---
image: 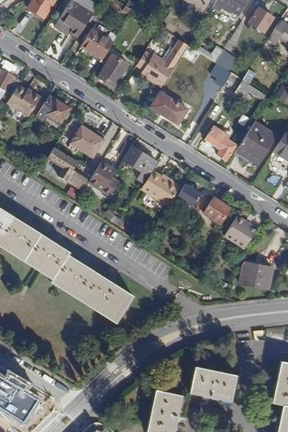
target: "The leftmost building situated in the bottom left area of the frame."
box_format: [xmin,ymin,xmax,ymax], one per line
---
[0,370,44,422]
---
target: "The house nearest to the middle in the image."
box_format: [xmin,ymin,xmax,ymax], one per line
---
[140,172,178,204]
